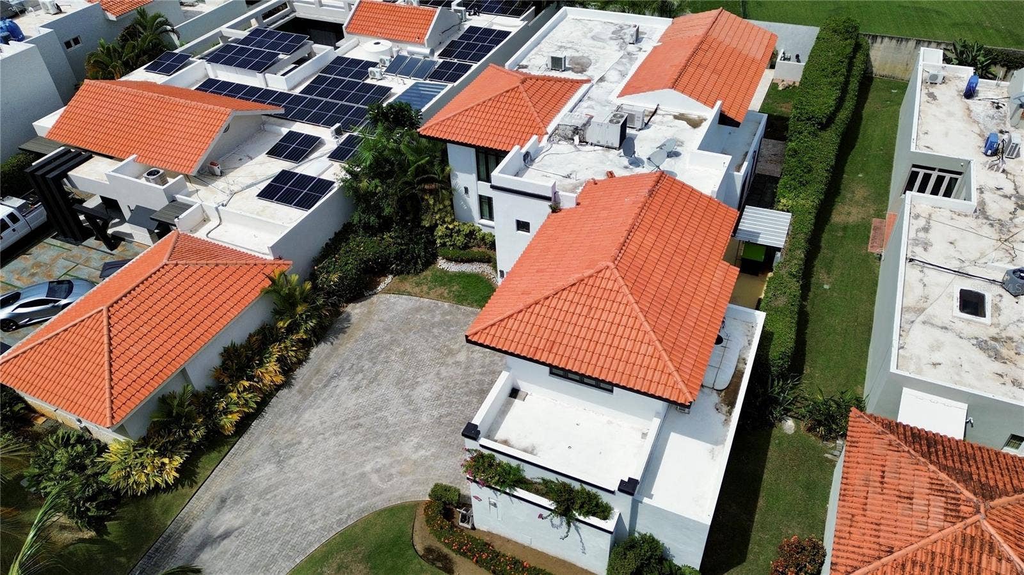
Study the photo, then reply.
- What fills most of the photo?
buildings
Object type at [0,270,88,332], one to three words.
car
